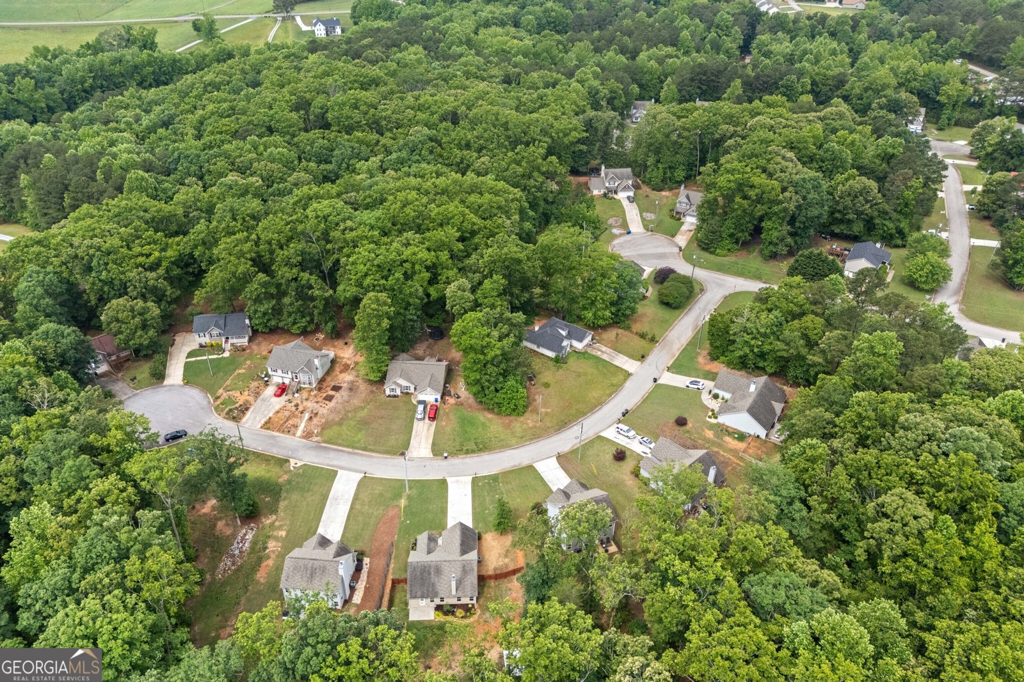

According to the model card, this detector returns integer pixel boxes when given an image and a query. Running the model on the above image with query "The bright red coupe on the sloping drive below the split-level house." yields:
[271,379,289,395]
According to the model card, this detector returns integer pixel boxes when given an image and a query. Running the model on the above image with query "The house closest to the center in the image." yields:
[522,315,593,358]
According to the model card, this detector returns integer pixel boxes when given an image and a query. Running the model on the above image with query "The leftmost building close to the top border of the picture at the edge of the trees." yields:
[312,9,345,36]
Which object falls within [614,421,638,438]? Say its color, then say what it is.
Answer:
white car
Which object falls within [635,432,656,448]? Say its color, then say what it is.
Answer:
white car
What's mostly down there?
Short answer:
trees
